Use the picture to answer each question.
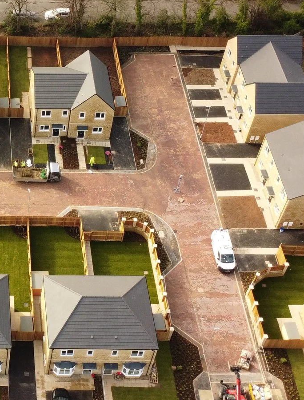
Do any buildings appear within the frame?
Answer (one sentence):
Yes, you can see a building in this photo.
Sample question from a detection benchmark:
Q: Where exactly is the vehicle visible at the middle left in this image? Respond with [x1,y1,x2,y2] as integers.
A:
[12,160,61,182]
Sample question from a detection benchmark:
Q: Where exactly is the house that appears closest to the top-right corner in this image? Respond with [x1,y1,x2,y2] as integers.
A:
[216,34,304,141]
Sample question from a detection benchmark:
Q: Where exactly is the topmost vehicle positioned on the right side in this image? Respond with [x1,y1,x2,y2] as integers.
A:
[212,228,236,272]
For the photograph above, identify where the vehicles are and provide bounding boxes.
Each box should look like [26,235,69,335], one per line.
[51,388,69,400]
[12,160,61,182]
[212,228,236,272]
[218,360,249,400]
[42,7,72,18]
